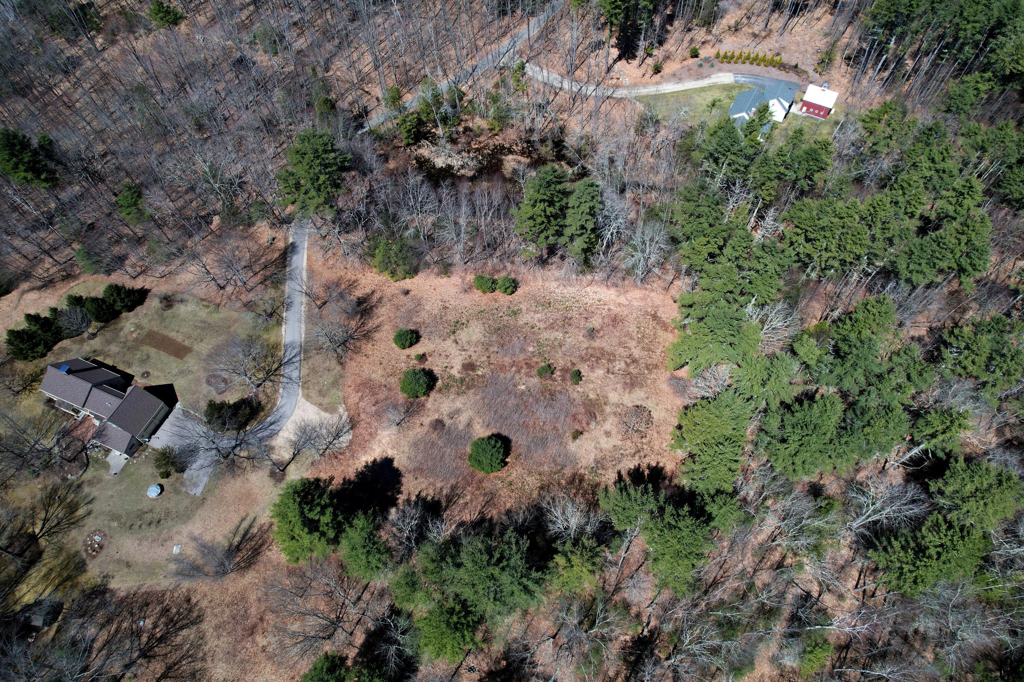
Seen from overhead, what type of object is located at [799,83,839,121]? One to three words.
barn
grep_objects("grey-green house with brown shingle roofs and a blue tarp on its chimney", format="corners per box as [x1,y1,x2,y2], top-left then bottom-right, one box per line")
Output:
[41,357,171,457]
